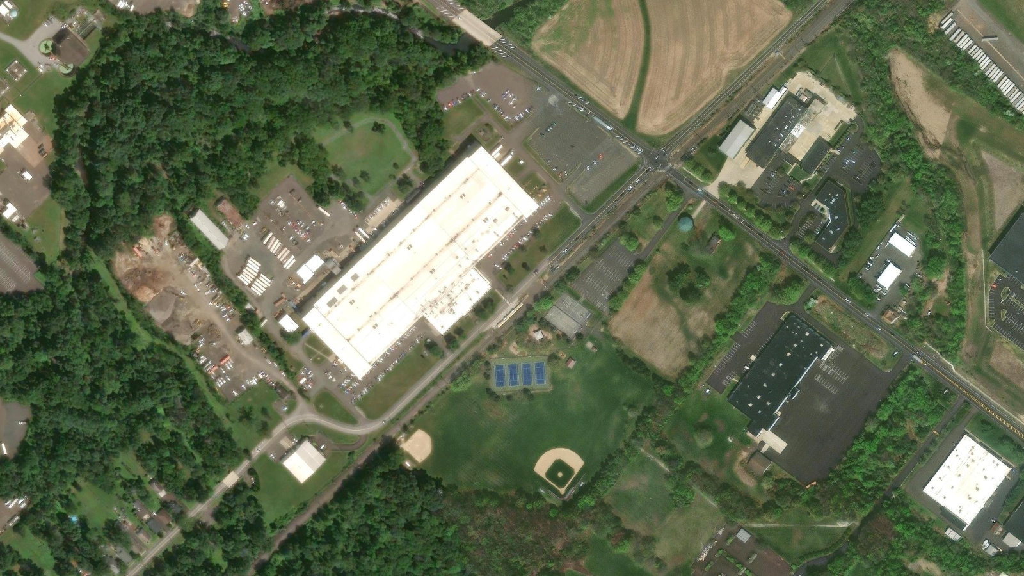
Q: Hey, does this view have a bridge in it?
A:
Yes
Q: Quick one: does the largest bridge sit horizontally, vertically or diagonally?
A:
diagonally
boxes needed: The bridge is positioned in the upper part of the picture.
[452,9,502,46]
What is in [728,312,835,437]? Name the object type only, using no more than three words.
building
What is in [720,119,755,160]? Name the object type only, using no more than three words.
hangar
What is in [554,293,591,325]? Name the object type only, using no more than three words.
basketball court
